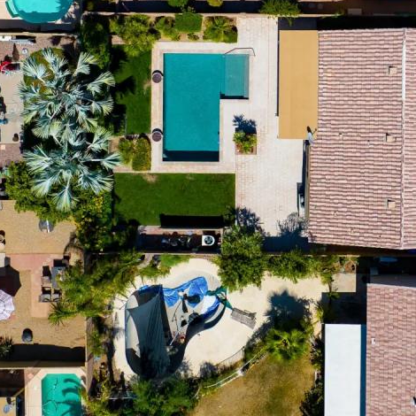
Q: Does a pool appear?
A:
Yes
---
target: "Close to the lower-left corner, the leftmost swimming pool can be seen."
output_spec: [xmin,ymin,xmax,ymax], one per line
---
[38,370,85,416]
